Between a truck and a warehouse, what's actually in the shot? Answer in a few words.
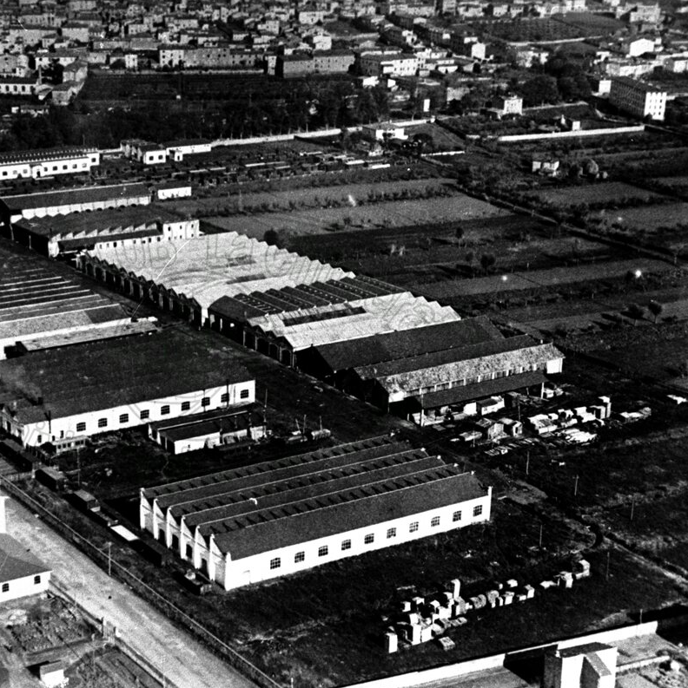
warehouse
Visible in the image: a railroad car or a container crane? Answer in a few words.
railroad car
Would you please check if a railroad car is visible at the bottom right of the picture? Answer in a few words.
No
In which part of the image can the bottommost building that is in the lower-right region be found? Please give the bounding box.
[544,628,626,688]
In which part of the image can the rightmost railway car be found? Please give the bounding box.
[166,565,205,591]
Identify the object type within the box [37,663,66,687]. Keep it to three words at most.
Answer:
shed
